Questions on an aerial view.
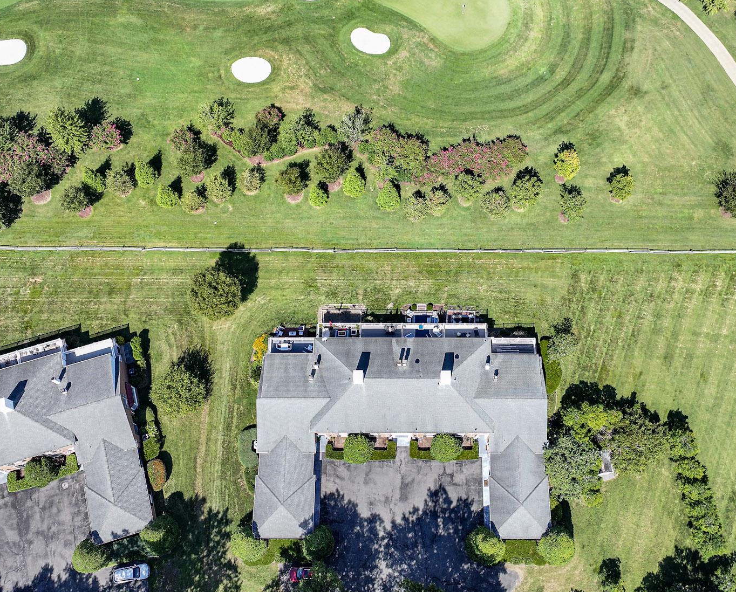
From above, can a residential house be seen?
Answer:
Yes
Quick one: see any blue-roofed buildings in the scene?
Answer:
No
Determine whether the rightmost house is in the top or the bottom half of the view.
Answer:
bottom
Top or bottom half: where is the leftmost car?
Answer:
bottom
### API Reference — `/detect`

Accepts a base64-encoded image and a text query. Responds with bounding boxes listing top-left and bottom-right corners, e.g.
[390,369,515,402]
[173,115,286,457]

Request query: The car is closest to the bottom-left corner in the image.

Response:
[110,563,150,584]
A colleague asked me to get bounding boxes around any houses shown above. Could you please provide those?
[253,322,553,538]
[0,338,158,545]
